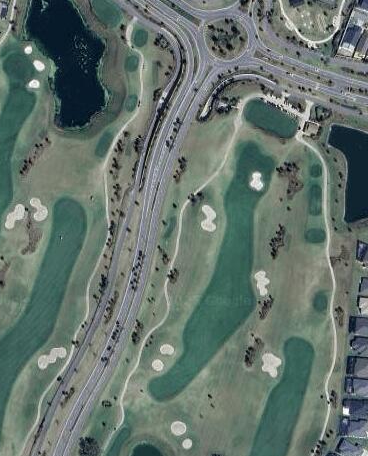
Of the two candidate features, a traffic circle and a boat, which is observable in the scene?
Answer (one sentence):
Of the two, only a traffic circle appears.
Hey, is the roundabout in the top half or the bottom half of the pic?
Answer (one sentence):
The top half of the photo is where the roundabout is.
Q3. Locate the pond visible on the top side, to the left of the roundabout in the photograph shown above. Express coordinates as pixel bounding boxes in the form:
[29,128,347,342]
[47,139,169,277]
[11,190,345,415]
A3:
[25,0,105,127]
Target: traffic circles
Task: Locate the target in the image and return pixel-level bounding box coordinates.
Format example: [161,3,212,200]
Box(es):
[194,7,261,72]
